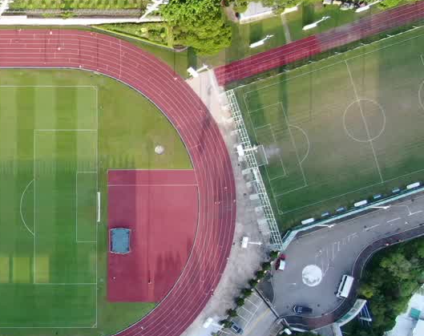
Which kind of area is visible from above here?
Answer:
sports ground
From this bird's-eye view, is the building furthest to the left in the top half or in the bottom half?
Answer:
top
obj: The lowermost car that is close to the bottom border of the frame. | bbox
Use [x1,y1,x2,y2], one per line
[230,323,244,335]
